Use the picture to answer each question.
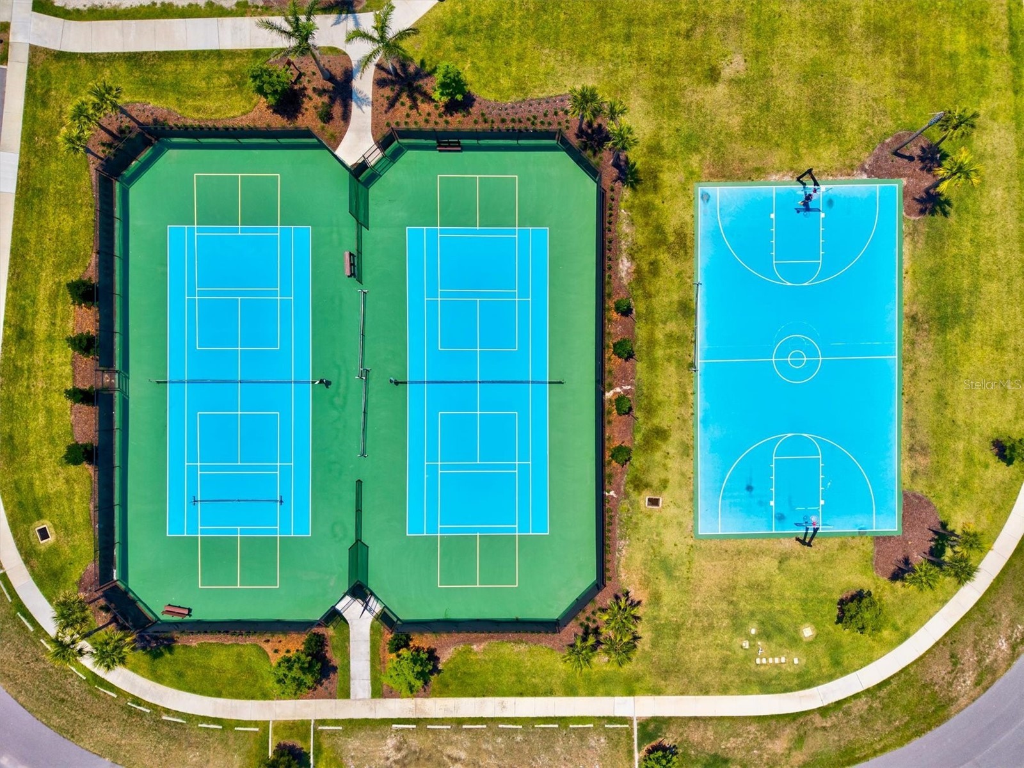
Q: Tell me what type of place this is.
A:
sports ground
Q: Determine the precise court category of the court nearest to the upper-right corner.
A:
basketball court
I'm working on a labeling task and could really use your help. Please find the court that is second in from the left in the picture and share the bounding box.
[358,139,599,621]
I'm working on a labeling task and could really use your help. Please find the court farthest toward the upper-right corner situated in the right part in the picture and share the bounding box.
[695,180,903,539]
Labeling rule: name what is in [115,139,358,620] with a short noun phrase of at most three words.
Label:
tennis court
